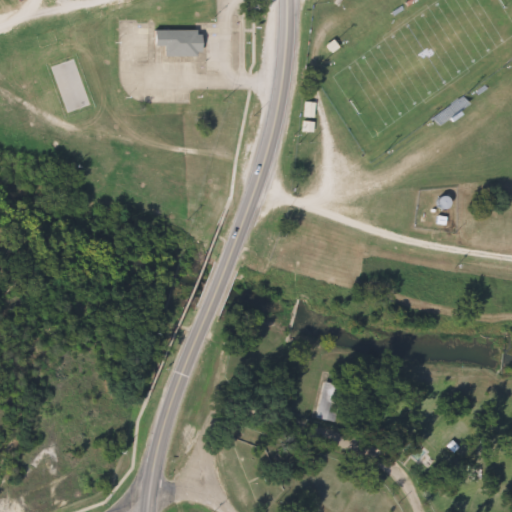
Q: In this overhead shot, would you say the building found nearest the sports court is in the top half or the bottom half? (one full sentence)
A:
It is in the top half that the building found nearest the sports court appears.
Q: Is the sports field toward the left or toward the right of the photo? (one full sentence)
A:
The sports field appears in the right half of the scene.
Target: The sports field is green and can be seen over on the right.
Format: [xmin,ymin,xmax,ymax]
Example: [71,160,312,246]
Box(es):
[326,0,512,146]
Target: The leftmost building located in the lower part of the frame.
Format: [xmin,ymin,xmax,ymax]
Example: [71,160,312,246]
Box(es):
[314,381,338,422]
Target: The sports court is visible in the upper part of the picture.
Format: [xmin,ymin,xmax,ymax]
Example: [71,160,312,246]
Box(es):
[52,60,90,112]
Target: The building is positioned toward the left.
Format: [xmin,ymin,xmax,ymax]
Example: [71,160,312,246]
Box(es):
[157,30,205,56]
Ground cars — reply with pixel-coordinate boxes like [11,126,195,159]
[232,229,238,238]
[256,164,262,174]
